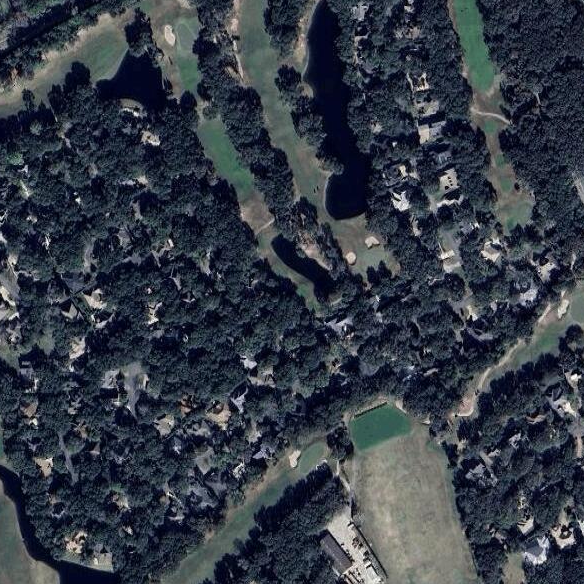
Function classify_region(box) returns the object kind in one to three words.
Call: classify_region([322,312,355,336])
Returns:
house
